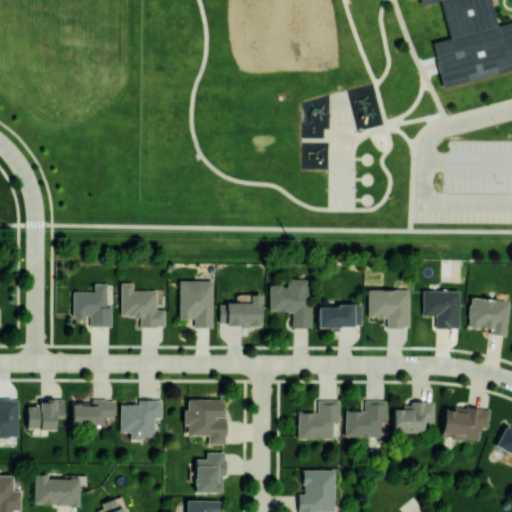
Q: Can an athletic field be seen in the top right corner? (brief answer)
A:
No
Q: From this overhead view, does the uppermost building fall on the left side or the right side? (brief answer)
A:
right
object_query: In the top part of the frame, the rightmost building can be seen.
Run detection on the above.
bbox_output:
[420,0,512,88]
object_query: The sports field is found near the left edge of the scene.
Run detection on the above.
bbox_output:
[0,0,128,126]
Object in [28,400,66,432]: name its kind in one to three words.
house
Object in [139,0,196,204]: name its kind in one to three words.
sports field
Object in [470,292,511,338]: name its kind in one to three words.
house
